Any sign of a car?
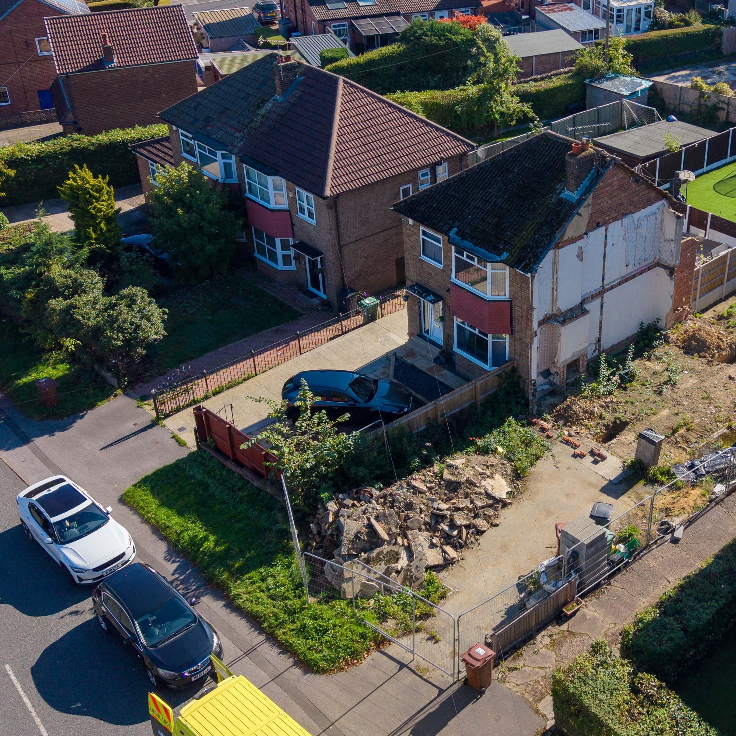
Yes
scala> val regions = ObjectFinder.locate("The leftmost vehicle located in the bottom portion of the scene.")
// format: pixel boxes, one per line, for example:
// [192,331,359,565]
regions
[15,480,133,587]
